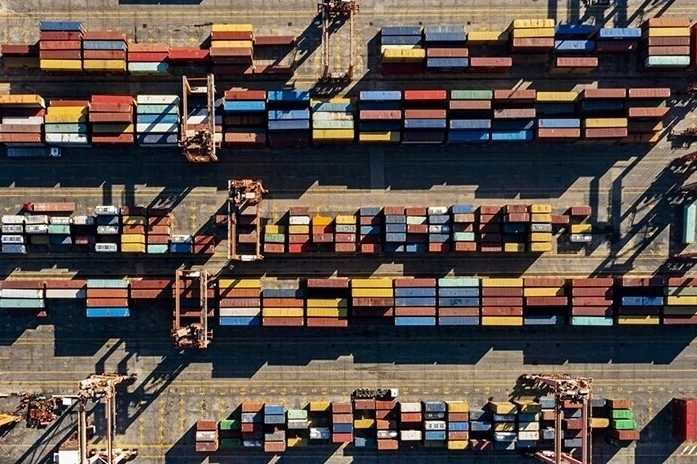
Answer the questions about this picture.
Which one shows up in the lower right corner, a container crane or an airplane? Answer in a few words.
container crane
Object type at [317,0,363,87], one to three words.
container crane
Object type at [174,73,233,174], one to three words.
container crane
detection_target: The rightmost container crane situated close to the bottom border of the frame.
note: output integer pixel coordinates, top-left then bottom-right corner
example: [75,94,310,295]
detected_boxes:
[525,373,596,464]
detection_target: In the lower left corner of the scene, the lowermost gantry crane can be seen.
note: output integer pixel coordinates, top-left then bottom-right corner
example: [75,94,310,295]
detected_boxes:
[73,374,143,464]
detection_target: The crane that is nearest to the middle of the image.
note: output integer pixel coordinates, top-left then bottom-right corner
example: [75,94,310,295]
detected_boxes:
[228,167,278,265]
